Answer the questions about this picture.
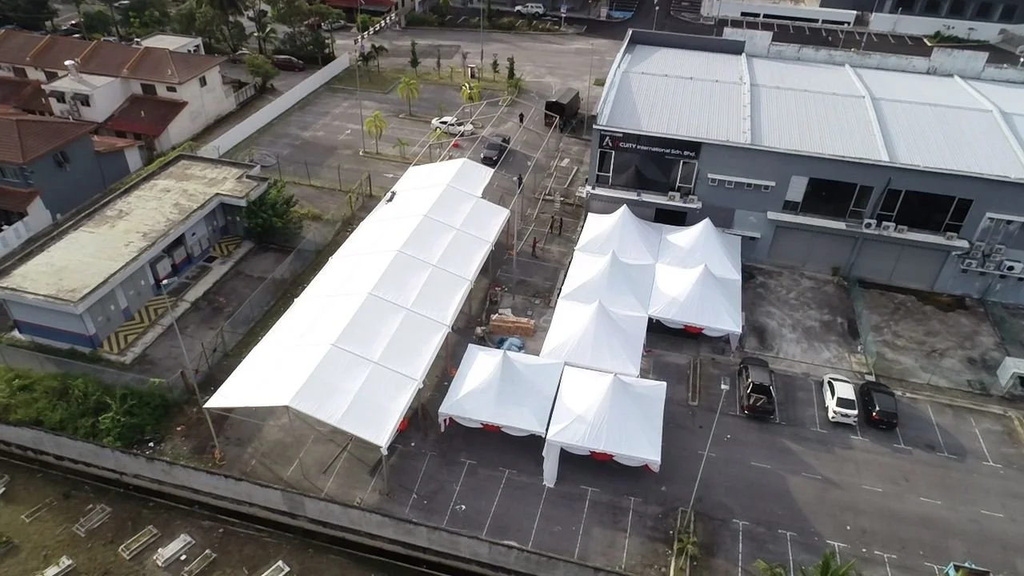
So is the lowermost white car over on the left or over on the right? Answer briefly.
right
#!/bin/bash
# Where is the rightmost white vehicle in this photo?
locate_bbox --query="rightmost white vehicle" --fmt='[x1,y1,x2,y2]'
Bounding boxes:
[815,364,861,422]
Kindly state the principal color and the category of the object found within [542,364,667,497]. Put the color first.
white tent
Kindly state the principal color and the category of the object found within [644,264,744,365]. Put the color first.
white tent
